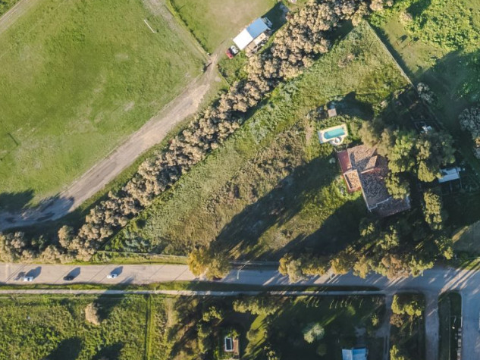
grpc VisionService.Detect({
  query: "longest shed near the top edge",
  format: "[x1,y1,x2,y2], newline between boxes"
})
[234,18,270,49]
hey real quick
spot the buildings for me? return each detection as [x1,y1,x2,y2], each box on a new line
[343,347,370,360]
[438,166,461,182]
[337,142,410,217]
[234,18,270,49]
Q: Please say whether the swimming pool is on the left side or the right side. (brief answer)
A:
right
